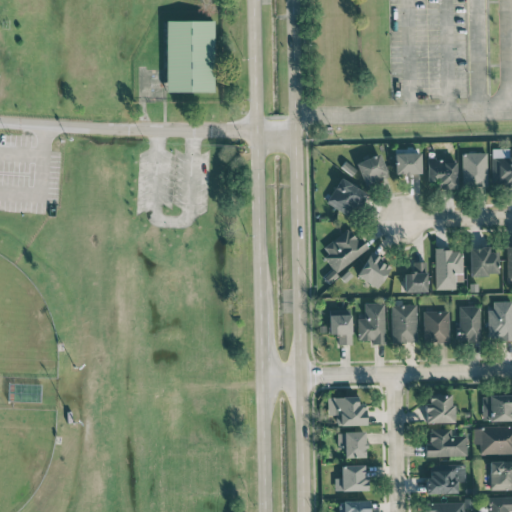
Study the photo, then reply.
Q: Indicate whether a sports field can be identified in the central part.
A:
No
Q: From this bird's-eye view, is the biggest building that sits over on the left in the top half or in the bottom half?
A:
top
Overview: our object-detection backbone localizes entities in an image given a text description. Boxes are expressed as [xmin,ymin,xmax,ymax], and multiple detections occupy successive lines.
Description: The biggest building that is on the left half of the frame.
[167,20,216,93]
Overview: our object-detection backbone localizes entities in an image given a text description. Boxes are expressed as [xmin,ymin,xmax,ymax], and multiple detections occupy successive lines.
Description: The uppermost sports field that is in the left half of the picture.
[0,254,58,378]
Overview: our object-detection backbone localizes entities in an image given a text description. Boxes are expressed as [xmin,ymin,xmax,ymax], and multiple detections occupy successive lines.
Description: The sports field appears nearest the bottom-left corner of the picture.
[0,410,56,512]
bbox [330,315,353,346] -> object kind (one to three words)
house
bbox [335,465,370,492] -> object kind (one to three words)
house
